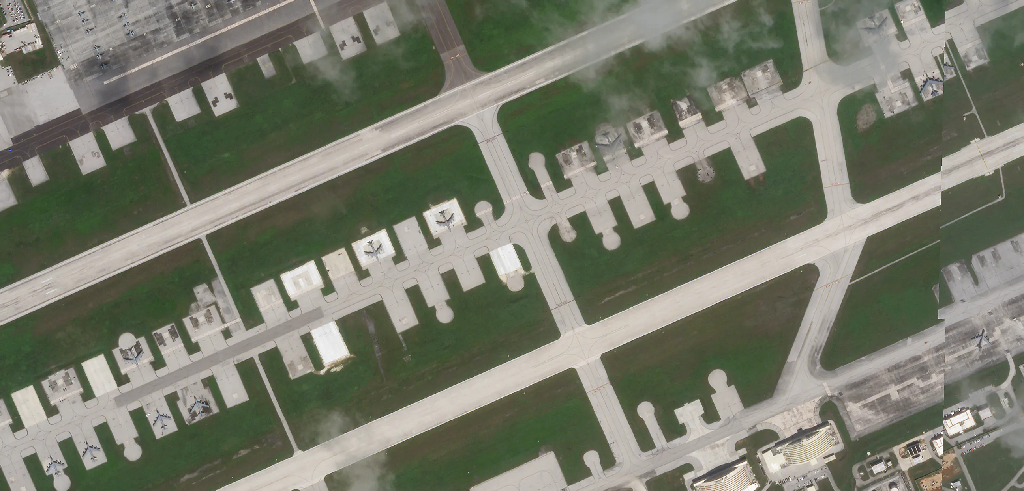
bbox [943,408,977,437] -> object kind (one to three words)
building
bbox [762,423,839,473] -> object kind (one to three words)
hangar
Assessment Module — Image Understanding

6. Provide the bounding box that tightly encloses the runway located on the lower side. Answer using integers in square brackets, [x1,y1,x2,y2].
[217,171,941,491]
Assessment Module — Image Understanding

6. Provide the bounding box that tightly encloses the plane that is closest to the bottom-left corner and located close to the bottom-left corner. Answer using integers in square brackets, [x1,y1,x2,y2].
[46,456,64,476]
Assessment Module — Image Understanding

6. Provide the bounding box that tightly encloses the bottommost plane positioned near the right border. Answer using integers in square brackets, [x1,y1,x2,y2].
[972,329,991,349]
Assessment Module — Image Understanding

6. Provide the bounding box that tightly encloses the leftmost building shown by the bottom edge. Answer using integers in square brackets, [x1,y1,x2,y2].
[693,459,760,491]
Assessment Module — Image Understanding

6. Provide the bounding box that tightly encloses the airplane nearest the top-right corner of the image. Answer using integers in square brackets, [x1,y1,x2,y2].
[919,73,945,95]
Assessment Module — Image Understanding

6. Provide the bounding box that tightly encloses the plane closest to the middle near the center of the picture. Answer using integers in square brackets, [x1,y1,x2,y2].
[437,212,455,231]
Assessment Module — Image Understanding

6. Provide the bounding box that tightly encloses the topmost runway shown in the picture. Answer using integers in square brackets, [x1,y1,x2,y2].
[0,0,736,325]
